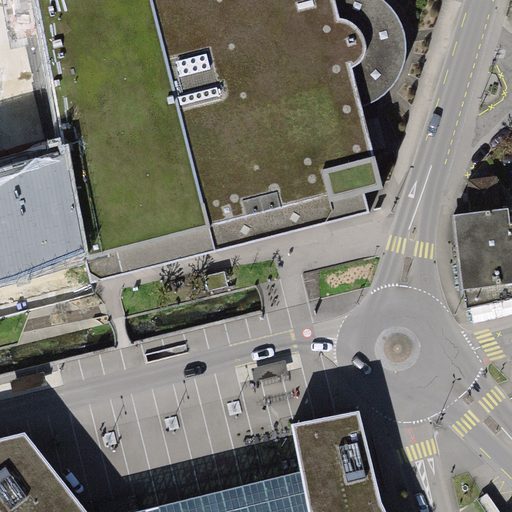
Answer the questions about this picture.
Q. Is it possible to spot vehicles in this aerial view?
Yes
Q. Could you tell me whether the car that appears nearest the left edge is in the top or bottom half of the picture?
bottom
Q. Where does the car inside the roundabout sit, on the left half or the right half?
right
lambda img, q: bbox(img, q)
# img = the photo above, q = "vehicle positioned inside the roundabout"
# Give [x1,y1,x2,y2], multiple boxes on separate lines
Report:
[352,356,372,375]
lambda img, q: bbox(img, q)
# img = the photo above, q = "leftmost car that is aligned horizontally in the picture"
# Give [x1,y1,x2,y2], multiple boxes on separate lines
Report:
[184,362,207,376]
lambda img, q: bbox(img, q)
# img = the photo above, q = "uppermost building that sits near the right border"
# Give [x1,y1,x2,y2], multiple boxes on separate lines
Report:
[458,165,504,212]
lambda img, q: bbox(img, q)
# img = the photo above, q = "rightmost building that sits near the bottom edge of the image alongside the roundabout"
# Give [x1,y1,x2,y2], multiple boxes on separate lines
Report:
[292,410,386,512]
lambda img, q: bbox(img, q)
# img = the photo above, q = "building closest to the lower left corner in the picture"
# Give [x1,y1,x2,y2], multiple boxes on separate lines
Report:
[0,432,89,512]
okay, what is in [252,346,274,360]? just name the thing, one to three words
vehicle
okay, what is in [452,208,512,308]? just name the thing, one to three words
building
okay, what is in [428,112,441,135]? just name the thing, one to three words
vehicle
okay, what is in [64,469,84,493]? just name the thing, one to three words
car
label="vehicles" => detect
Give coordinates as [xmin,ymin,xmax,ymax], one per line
[352,356,372,375]
[428,112,441,135]
[184,362,207,376]
[310,340,333,352]
[471,142,492,163]
[64,469,84,493]
[489,126,510,147]
[414,493,430,512]
[252,346,274,360]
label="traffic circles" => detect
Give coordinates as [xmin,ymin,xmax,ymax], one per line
[334,284,483,424]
